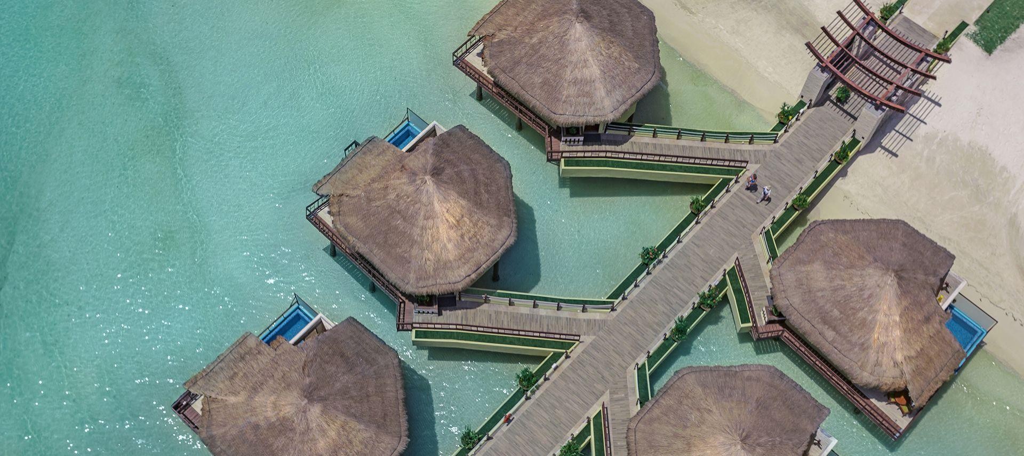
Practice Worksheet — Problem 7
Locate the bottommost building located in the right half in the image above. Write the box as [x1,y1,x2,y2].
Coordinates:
[612,366,837,456]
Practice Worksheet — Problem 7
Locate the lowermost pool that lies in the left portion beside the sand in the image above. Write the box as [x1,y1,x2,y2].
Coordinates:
[252,297,317,346]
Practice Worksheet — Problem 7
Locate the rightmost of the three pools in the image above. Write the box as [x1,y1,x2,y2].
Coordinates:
[944,303,993,385]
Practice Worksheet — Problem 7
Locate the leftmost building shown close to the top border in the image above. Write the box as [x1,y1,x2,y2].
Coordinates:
[455,0,662,164]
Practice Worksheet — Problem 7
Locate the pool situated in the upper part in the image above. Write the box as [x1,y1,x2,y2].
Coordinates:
[386,119,425,148]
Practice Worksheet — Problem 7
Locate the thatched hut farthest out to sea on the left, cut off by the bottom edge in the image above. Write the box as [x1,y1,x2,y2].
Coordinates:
[172,288,411,456]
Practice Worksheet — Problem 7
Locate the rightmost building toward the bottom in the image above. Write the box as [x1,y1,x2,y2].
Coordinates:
[751,221,998,440]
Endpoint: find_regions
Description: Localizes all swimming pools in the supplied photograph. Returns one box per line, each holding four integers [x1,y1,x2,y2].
[944,303,993,385]
[252,297,317,346]
[386,119,425,148]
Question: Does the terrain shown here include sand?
Yes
